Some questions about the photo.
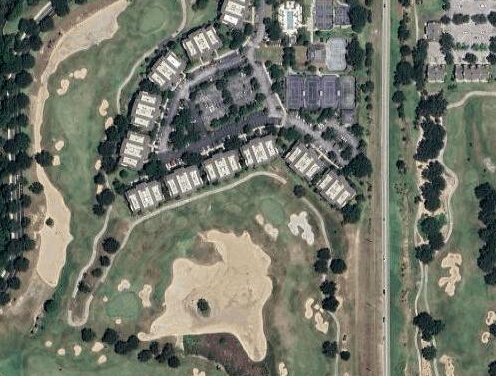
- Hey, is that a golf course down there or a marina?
golf course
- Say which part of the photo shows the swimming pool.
top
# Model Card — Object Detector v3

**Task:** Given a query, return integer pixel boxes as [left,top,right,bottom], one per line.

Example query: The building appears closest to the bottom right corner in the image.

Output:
[316,169,355,208]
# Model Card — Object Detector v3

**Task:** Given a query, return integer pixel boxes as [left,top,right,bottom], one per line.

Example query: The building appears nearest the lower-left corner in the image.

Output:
[125,178,166,212]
